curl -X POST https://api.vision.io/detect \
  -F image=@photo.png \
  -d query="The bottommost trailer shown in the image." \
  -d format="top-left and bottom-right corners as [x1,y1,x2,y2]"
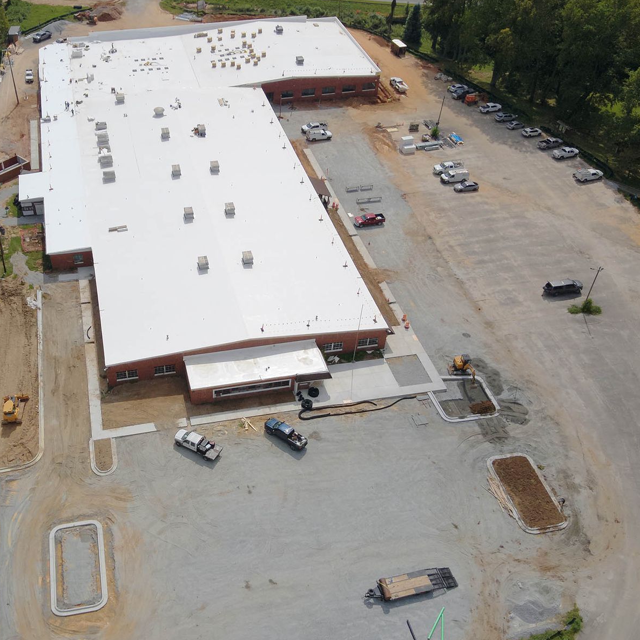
[371,568,457,601]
